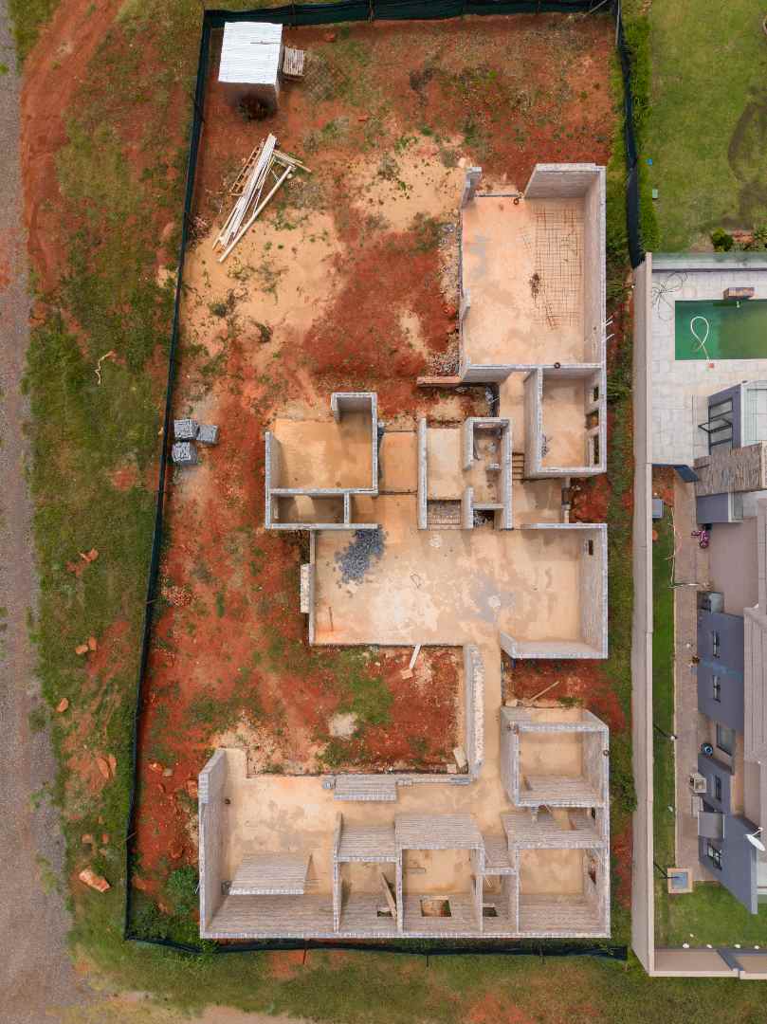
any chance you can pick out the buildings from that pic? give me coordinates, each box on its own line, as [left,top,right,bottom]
[696,384,767,919]
[199,164,610,939]
[219,21,287,112]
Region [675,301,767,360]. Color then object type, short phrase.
green swimming pool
